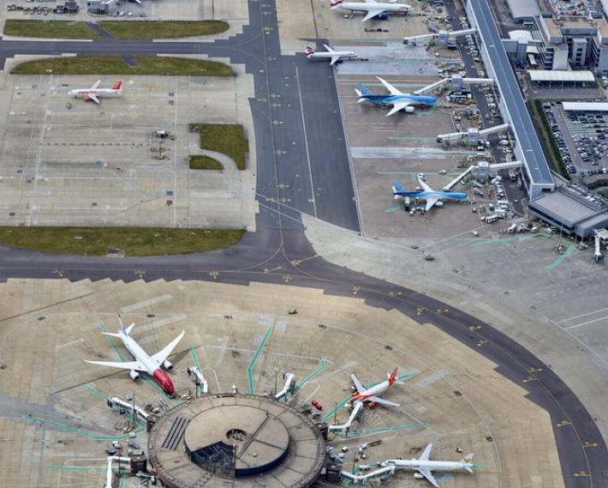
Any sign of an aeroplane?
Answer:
Yes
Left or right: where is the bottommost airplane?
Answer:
right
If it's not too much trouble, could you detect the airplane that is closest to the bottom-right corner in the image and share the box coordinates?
[381,441,474,486]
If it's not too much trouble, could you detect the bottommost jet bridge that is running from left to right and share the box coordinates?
[340,464,398,487]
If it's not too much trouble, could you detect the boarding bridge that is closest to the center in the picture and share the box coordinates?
[272,370,293,402]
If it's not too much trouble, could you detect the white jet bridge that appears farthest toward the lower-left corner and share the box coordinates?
[104,452,133,488]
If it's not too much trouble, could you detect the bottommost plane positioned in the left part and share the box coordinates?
[90,311,187,391]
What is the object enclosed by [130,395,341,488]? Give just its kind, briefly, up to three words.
building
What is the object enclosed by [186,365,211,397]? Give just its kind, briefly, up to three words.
jet bridge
